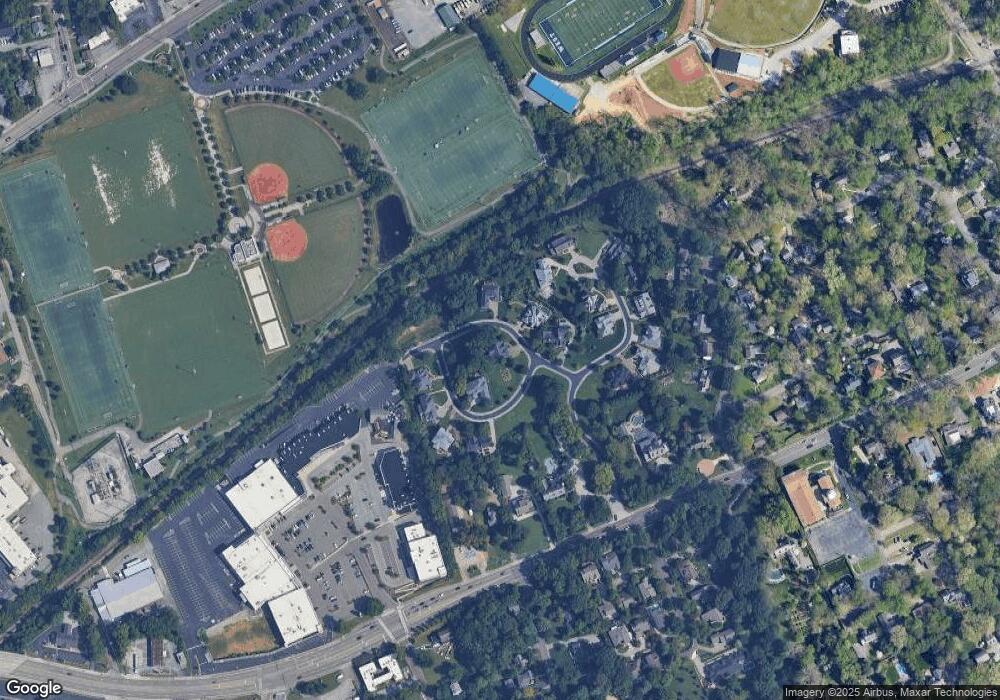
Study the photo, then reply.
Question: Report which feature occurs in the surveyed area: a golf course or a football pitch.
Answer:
football pitch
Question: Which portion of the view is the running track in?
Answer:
top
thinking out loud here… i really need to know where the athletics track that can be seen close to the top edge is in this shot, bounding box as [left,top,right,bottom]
[517,0,685,86]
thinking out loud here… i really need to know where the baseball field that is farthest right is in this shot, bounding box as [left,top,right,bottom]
[701,0,826,51]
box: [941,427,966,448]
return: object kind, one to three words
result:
house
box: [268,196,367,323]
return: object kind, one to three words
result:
baseball field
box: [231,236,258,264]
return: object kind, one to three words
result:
building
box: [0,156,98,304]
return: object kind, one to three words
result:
soccer field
